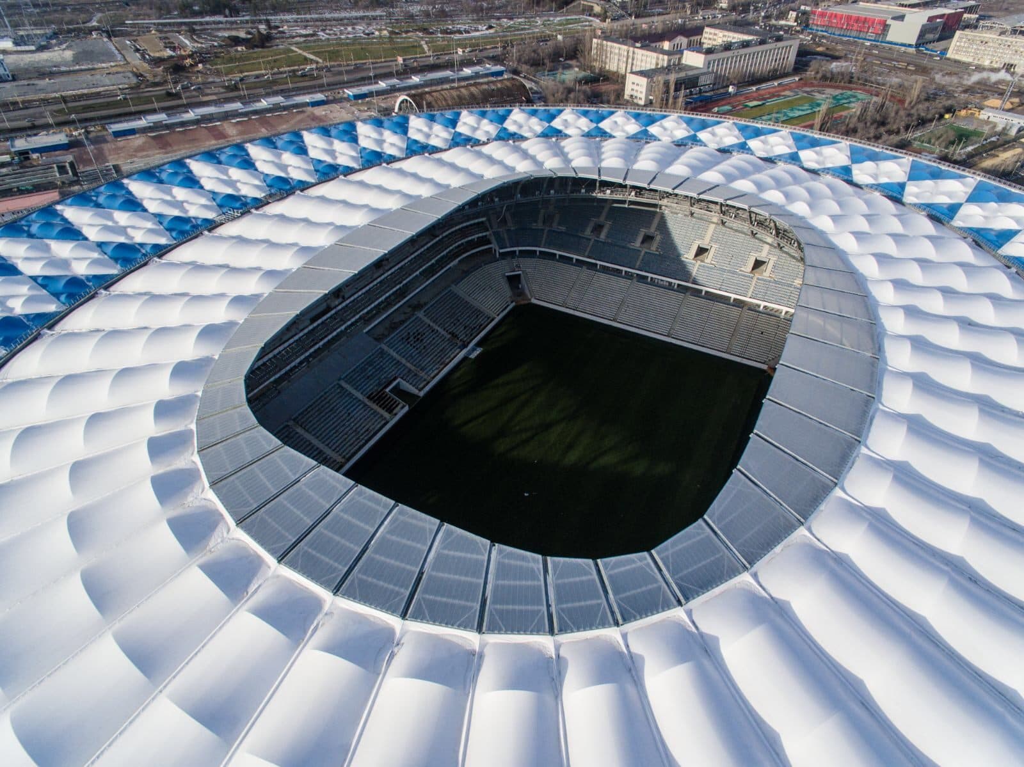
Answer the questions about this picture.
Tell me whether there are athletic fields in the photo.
Yes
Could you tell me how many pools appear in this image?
0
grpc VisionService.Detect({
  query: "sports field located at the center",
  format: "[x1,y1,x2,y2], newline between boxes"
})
[281,299,770,610]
